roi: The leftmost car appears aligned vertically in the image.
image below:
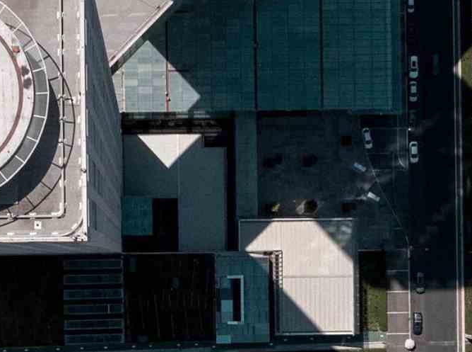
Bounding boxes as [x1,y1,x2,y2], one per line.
[362,126,374,149]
